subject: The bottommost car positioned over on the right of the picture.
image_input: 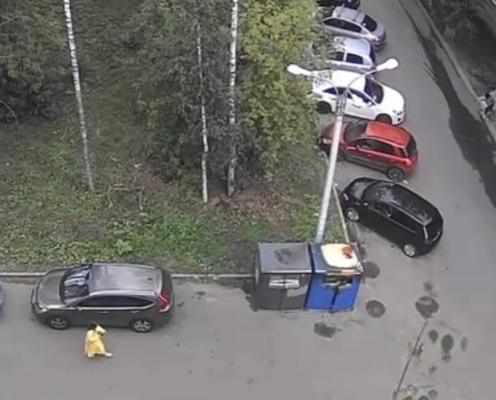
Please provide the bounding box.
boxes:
[345,184,456,259]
